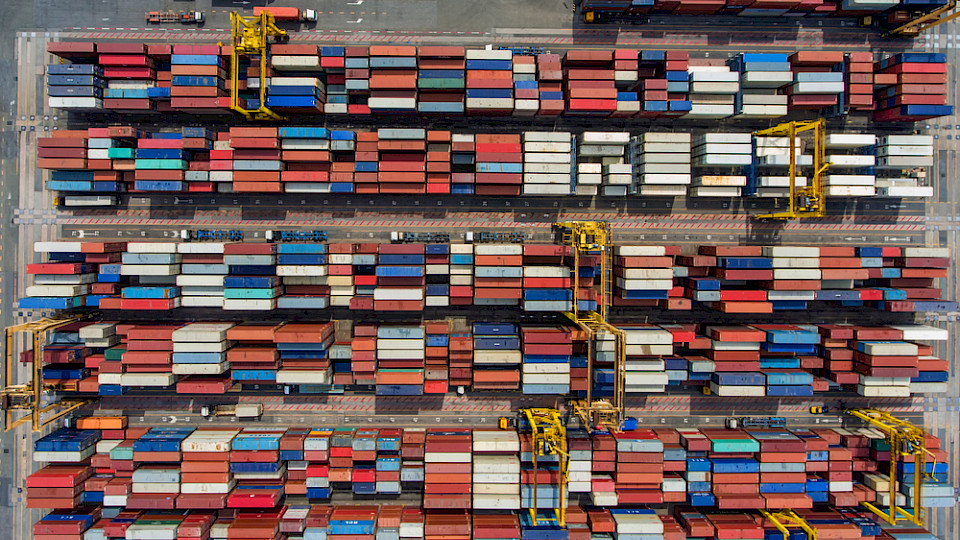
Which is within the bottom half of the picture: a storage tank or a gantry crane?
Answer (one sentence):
Looking within the bottom half of the picture, you will find a gantry crane.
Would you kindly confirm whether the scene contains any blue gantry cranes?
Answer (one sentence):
No, the picture doesn't show any blue gantry crane.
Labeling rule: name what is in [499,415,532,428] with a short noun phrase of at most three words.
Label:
vehicle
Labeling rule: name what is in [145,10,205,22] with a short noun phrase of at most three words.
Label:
vehicle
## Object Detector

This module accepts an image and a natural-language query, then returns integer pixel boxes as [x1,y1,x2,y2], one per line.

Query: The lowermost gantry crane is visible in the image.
[751,506,823,540]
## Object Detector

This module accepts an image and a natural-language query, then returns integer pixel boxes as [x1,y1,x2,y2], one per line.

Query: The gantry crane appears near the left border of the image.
[0,309,98,427]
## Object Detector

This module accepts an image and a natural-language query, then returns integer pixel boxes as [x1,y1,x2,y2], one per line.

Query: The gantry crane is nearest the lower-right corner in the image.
[838,410,946,531]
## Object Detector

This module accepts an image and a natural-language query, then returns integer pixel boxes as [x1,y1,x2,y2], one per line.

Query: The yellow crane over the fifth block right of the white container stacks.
[518,407,578,528]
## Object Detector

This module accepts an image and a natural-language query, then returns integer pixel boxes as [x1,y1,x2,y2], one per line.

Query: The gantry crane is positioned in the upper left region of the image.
[230,11,291,123]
